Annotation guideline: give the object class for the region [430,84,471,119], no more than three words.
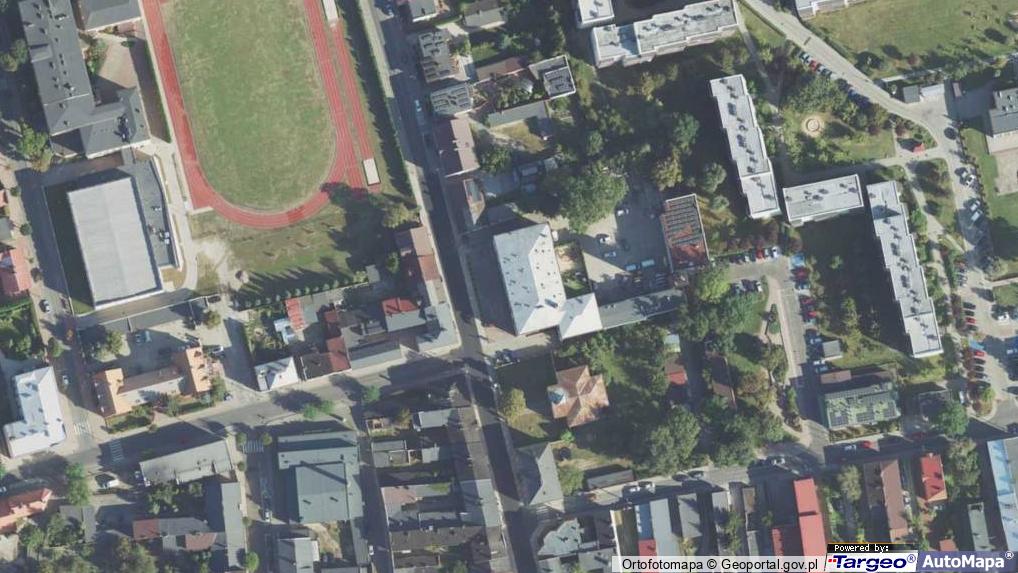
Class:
building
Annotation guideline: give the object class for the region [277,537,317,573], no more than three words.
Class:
house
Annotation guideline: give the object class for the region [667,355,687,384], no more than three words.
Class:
barn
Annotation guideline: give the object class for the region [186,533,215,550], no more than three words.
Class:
shed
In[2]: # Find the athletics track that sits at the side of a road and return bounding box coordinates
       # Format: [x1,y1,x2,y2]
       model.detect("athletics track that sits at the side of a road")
[144,0,381,229]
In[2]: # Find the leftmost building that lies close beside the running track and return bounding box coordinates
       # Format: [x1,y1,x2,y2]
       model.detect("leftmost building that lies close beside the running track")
[19,0,96,139]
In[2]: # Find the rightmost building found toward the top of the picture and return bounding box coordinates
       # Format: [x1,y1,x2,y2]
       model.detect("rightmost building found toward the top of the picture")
[988,86,1018,139]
